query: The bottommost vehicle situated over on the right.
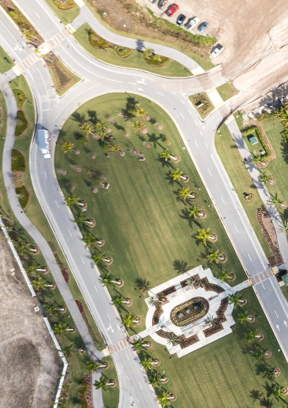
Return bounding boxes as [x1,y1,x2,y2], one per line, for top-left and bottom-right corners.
[211,43,225,57]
